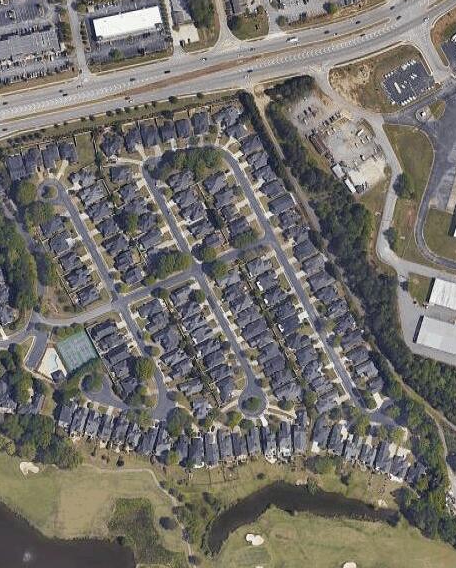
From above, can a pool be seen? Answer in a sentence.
Yes, a pool can be made out from above.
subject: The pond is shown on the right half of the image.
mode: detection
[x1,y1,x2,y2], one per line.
[205,480,399,556]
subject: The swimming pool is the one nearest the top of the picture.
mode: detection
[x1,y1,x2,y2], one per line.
[38,347,66,376]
